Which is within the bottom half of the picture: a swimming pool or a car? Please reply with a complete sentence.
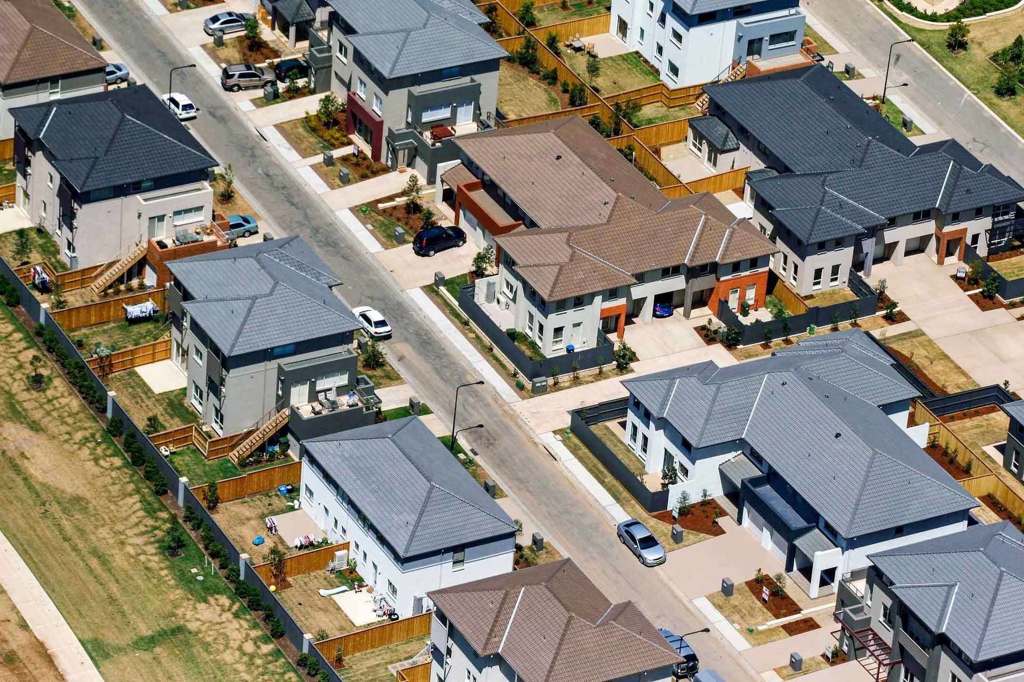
It is a car that can be seen within the bottom half of the picture.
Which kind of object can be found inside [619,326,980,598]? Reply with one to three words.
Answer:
house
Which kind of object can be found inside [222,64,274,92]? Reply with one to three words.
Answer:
car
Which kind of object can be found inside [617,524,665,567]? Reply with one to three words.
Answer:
car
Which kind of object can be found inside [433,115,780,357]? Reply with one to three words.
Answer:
house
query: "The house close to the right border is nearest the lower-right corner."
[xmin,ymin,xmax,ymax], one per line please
[824,518,1024,682]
